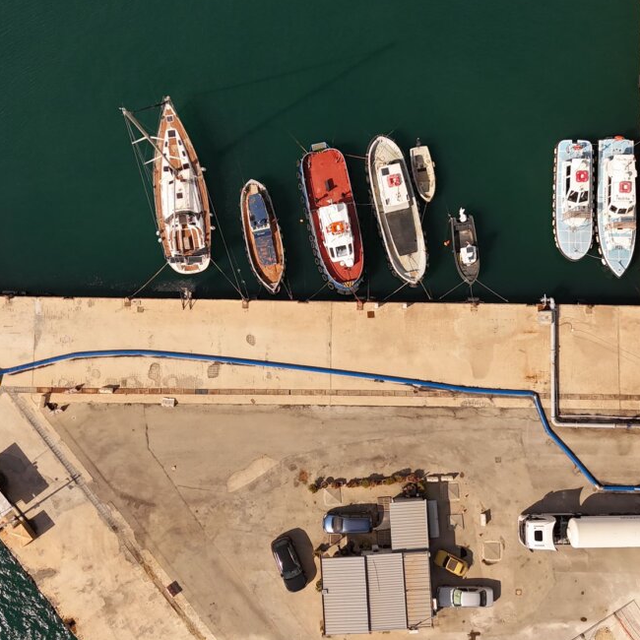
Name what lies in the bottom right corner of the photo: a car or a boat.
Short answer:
car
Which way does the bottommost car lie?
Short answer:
from left to right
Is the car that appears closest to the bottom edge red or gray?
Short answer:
gray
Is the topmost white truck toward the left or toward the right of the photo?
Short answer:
right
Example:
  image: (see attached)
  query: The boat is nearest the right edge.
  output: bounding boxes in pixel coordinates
[595,136,637,279]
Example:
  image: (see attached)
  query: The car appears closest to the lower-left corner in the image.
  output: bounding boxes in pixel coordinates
[271,535,306,594]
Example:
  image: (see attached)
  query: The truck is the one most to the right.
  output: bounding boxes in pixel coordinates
[518,513,640,554]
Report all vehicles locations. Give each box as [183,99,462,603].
[432,550,472,580]
[437,585,495,610]
[324,513,372,537]
[518,513,640,554]
[271,535,306,594]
